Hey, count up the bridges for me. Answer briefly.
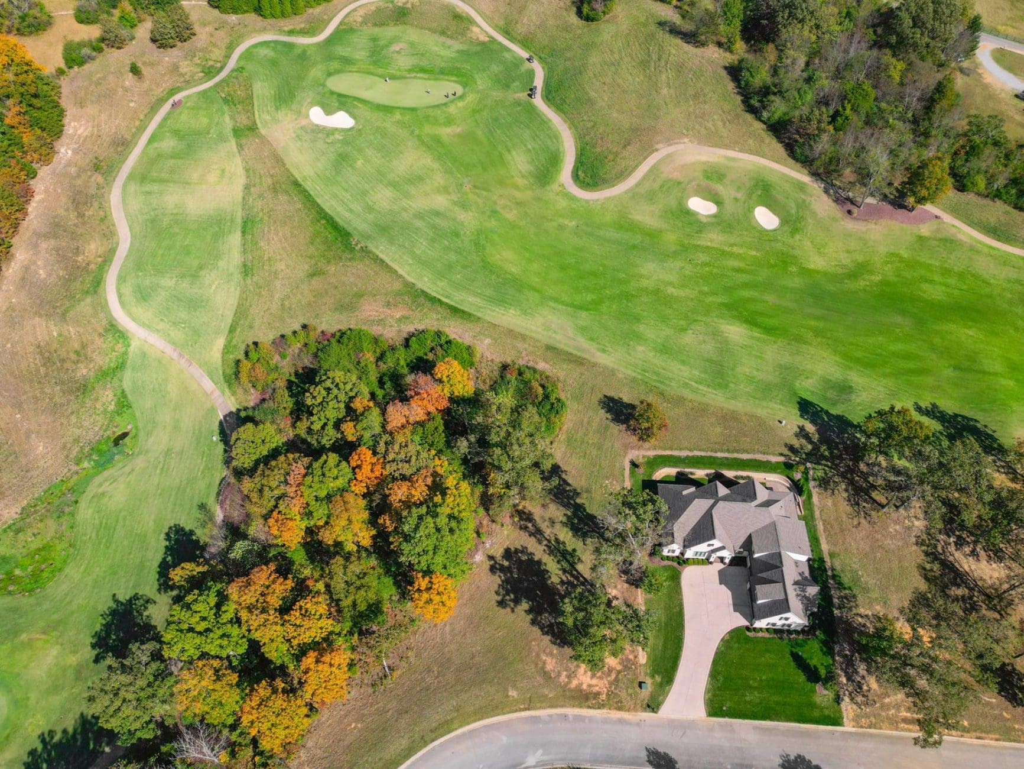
0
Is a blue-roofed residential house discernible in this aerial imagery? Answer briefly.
No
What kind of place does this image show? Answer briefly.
golf course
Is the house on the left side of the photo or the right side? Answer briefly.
right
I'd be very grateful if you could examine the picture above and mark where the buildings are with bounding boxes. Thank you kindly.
[657,477,820,631]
